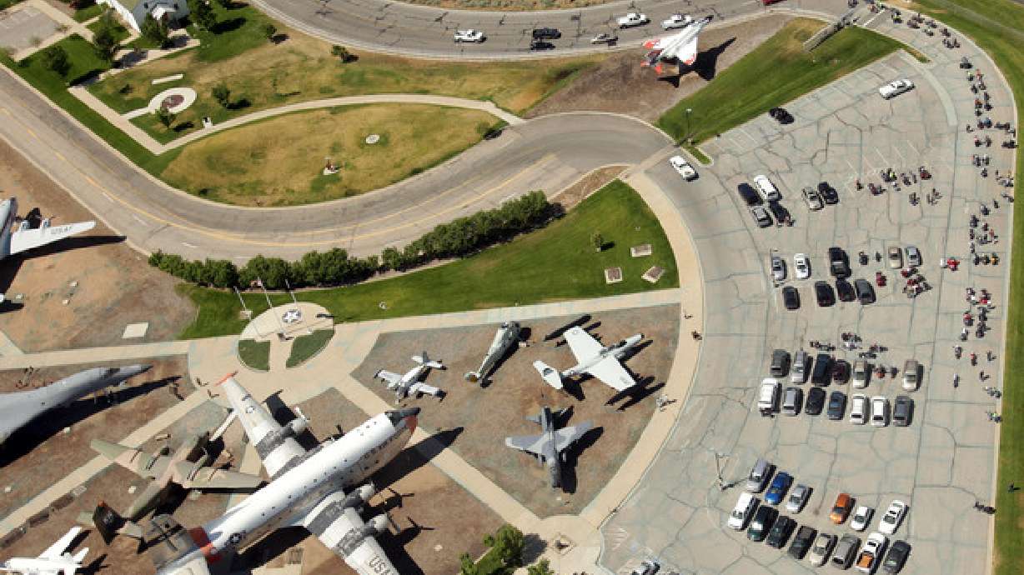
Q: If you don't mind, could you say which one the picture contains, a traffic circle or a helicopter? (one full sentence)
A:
The one in the frame is a helicopter.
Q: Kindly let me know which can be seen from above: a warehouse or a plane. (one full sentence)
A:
I can see a plane in this picture.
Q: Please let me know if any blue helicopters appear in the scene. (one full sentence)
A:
No, I can see no blue helicopter in this picture.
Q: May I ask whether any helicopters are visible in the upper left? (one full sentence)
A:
No, in the upper left there is no helicopter.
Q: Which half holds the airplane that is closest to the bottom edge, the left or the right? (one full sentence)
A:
You can find the airplane that is closest to the bottom edge on the left side of the picture.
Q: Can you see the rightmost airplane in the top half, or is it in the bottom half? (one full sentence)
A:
Seen from above, the rightmost airplane lies in the top half of the view.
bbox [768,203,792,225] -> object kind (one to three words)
car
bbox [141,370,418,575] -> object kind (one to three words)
airplane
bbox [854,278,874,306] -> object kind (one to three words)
vehicle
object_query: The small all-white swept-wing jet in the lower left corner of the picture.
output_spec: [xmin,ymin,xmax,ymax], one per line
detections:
[2,526,93,575]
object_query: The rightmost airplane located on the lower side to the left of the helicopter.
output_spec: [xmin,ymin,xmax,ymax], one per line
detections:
[377,351,448,403]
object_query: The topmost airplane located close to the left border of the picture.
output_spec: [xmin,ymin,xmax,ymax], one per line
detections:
[0,196,96,301]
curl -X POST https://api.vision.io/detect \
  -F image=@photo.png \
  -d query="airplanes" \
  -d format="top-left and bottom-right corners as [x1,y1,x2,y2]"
[377,351,448,403]
[531,314,652,406]
[0,366,153,454]
[2,526,93,575]
[141,370,418,575]
[642,17,713,80]
[506,399,590,491]
[89,429,258,550]
[0,196,96,301]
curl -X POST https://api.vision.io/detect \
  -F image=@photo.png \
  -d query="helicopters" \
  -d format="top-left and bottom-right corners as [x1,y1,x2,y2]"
[461,321,515,386]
